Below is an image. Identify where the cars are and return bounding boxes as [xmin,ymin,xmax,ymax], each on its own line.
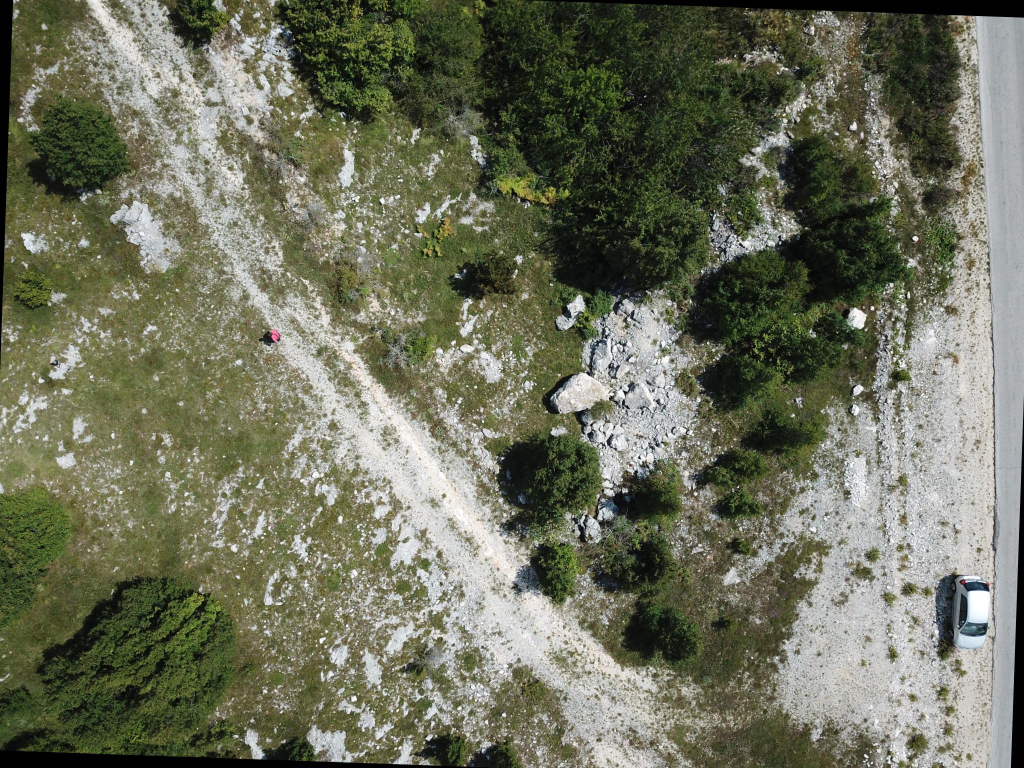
[951,574,996,651]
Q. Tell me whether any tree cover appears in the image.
Yes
